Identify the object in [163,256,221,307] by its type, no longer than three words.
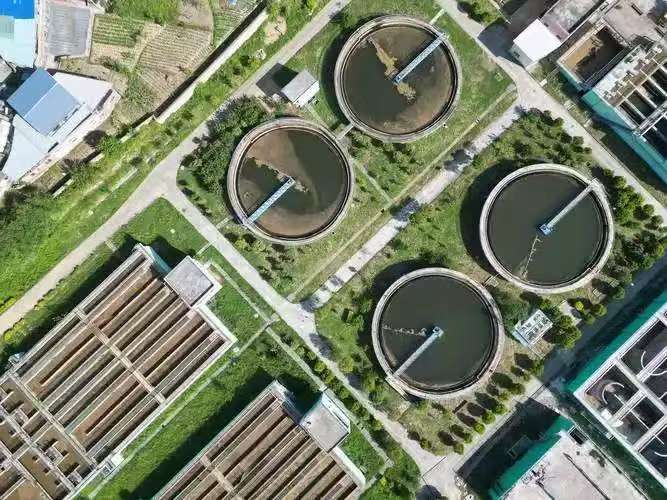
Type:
building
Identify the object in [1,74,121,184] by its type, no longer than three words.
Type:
house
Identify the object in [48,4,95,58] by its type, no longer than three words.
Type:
shed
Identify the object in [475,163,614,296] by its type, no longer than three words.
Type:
storage tank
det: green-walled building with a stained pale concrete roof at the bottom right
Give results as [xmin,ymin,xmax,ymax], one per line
[475,417,647,500]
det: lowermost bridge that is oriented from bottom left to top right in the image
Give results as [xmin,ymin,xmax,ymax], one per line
[388,327,447,383]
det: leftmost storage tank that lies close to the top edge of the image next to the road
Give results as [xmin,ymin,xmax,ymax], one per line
[334,16,462,146]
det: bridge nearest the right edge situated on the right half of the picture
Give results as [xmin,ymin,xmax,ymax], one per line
[541,180,599,236]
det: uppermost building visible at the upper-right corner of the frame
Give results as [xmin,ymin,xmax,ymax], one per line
[539,0,595,42]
